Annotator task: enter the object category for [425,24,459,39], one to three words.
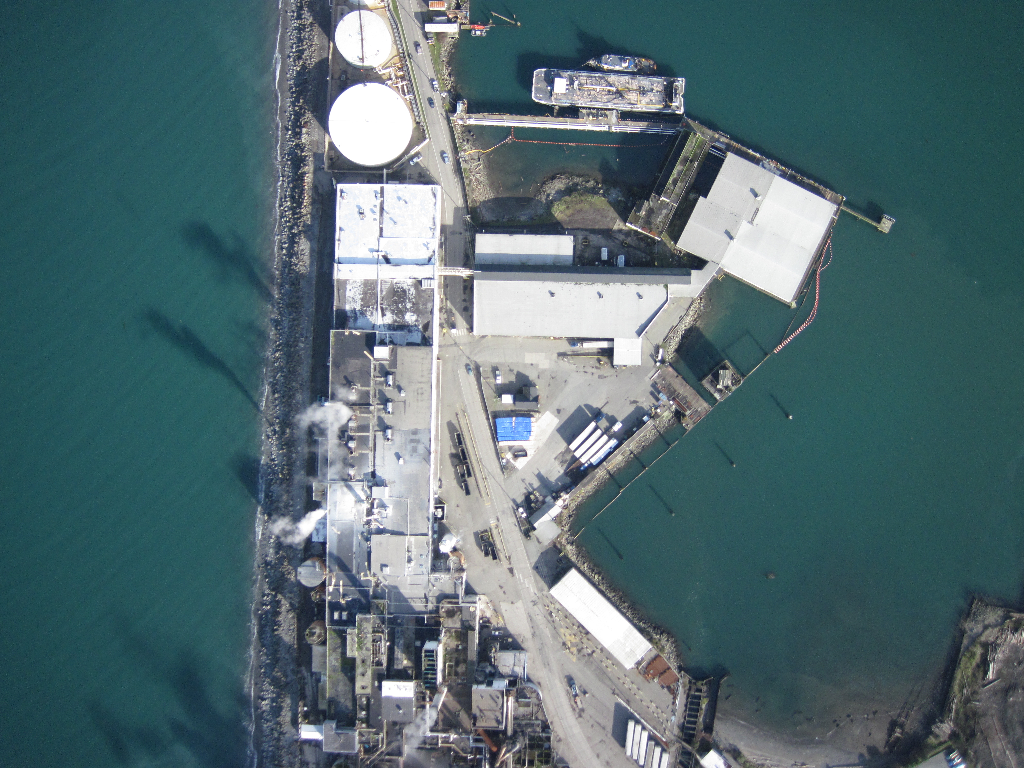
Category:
shed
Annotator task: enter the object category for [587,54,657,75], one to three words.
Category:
boat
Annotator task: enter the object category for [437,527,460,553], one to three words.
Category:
silo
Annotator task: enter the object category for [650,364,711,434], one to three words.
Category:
pier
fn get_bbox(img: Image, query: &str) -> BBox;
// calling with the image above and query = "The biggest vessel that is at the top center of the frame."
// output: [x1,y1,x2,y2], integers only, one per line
[532,68,684,116]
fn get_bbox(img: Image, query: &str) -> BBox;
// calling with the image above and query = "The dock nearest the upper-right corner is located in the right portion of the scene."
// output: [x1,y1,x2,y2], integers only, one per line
[840,205,895,234]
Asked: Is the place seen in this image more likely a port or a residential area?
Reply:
port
